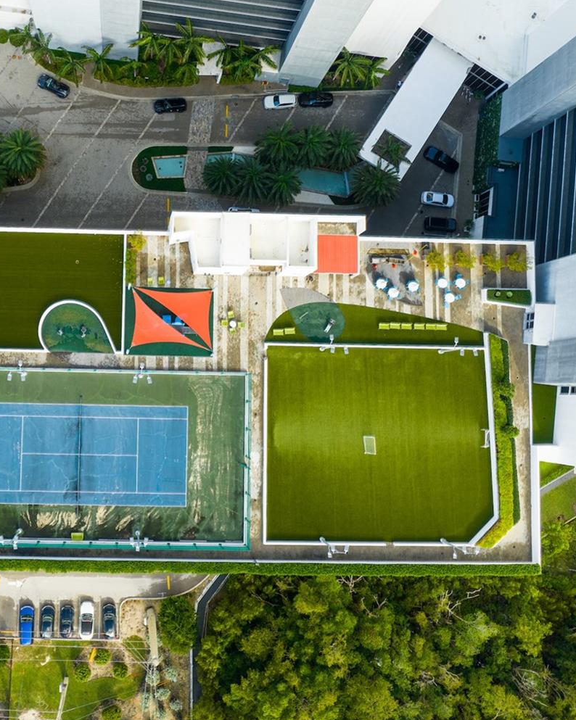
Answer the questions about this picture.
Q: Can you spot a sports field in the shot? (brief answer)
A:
Yes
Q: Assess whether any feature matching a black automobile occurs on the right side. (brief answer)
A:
Yes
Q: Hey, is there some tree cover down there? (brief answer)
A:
Yes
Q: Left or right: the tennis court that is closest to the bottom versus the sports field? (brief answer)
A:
on its left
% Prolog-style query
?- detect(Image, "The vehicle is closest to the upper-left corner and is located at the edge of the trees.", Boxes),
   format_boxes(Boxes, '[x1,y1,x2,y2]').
[39,74,70,98]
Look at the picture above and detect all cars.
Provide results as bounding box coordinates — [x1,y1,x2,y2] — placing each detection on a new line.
[153,96,186,113]
[17,607,34,645]
[420,192,452,207]
[298,91,332,108]
[424,146,457,172]
[78,602,94,639]
[101,603,117,641]
[59,603,75,641]
[263,92,297,109]
[39,603,54,641]
[39,74,70,98]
